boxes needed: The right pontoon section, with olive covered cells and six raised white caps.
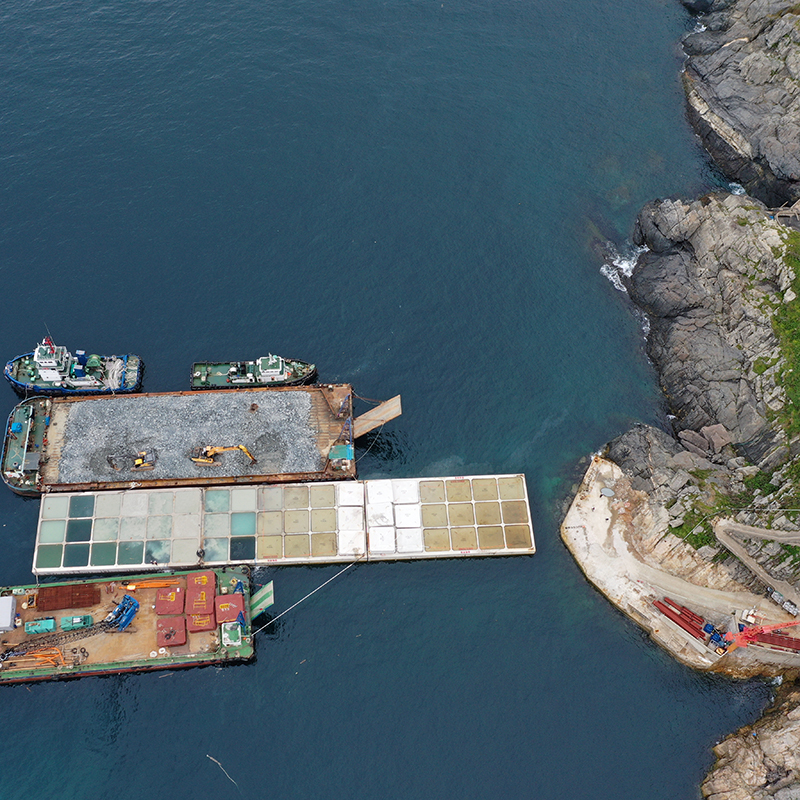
[364,474,536,562]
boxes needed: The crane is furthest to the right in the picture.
[723,612,800,655]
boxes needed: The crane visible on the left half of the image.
[2,593,141,659]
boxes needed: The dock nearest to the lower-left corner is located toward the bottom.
[32,488,203,577]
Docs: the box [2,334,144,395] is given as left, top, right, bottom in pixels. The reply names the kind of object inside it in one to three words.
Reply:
boat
